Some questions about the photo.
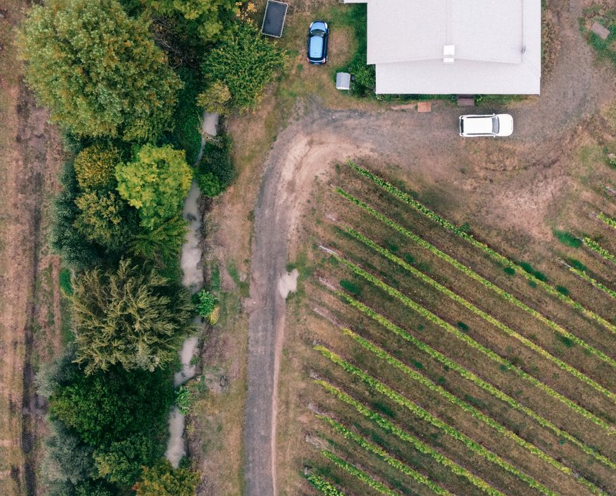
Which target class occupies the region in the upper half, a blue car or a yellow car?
blue car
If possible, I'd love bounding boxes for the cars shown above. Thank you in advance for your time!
[460,113,512,138]
[306,23,330,67]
